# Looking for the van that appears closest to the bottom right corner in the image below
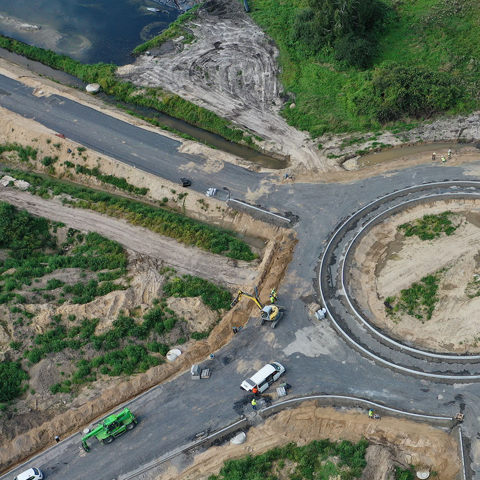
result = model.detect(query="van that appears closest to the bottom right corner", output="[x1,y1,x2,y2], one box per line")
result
[242,363,286,392]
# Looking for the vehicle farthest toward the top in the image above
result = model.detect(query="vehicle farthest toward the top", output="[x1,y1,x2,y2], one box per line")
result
[238,288,283,329]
